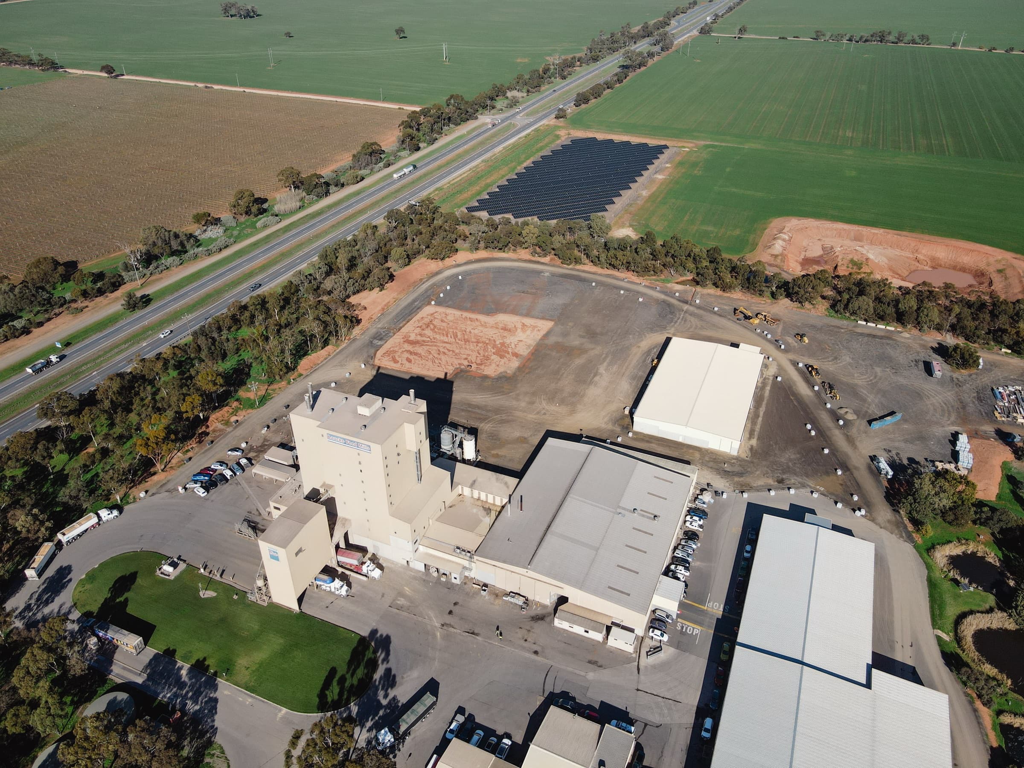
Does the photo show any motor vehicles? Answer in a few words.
Yes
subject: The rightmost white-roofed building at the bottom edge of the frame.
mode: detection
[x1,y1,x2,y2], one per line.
[708,513,954,768]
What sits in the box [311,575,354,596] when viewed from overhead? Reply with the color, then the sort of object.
white truck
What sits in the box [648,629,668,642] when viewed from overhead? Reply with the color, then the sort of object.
white vehicle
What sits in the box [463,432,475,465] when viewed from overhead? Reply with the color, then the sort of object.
white silo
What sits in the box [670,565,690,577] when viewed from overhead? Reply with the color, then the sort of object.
white vehicle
